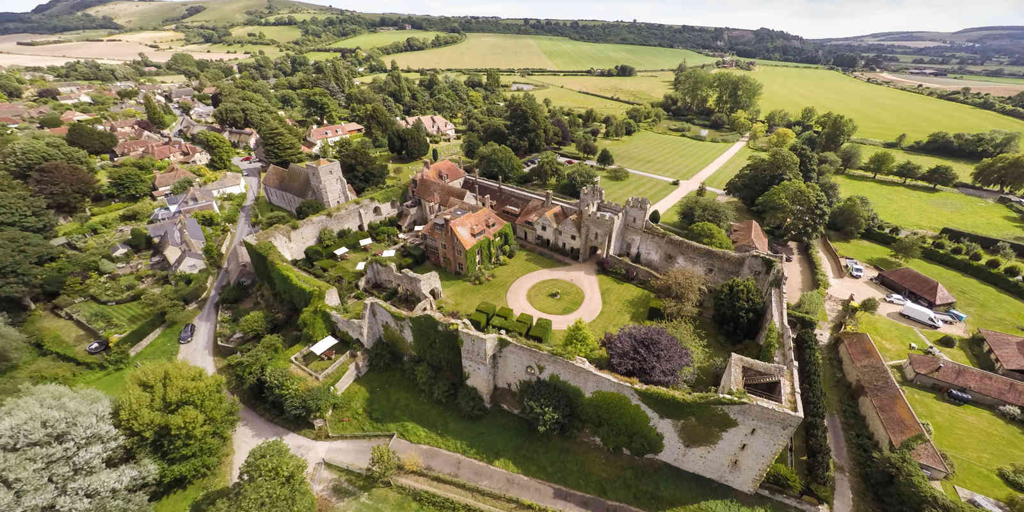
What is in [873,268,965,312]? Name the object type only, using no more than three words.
shed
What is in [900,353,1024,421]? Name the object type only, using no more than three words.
barn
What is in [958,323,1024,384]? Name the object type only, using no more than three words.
barn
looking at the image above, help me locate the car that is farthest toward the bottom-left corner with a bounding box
[175,320,196,341]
